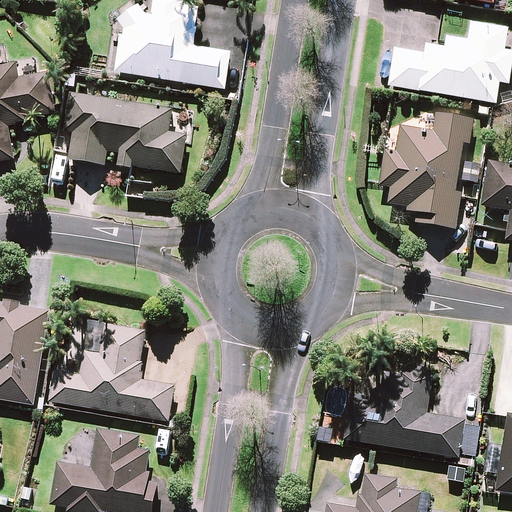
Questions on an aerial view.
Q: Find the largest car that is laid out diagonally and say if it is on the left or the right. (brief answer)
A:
right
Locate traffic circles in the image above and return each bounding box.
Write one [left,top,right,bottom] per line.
[198,189,354,346]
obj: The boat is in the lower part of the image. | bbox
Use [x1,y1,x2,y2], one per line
[351,449,366,484]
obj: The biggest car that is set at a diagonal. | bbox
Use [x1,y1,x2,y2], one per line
[448,220,472,246]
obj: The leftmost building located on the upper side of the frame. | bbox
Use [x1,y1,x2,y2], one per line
[0,60,54,162]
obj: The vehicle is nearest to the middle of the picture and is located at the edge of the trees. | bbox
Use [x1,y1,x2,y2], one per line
[297,330,311,356]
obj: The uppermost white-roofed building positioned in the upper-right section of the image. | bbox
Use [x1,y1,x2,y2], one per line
[386,20,512,102]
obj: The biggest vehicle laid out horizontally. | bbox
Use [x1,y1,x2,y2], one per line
[472,237,502,252]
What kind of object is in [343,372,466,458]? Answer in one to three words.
house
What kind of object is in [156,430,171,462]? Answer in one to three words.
camper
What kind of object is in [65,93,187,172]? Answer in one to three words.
house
